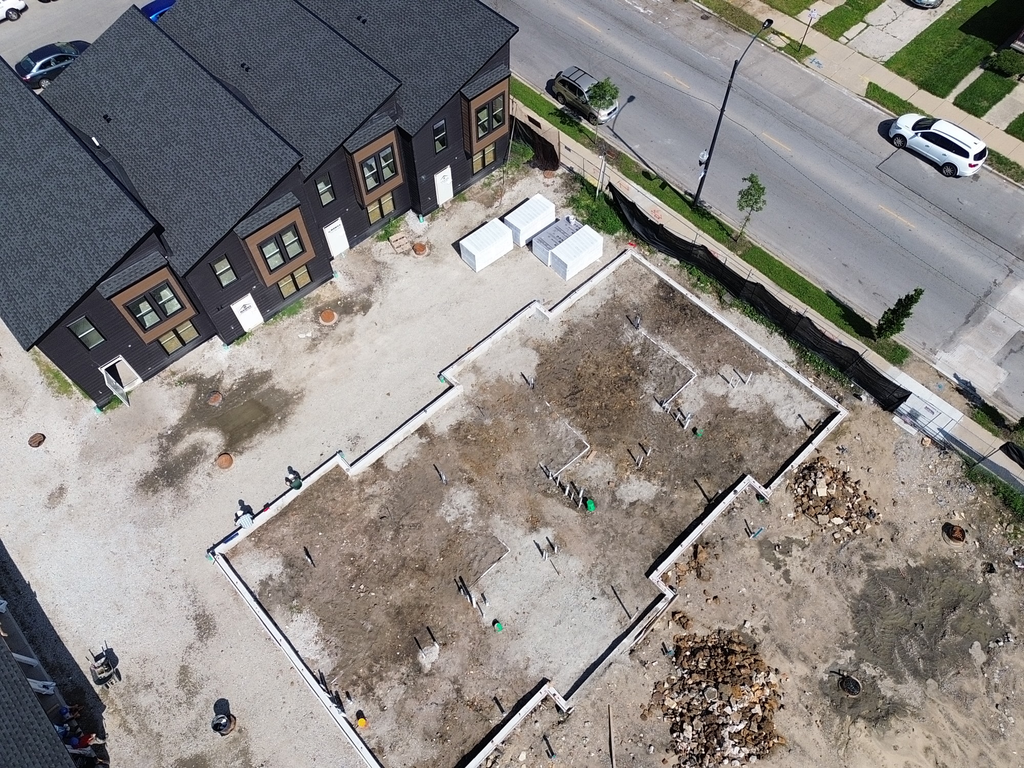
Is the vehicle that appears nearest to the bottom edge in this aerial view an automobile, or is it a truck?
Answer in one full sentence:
The vehicle that appears nearest to the bottom edge can be classified as an automobile.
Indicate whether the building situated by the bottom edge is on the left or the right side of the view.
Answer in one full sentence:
The building situated by the bottom edge appears in the left half of the scene.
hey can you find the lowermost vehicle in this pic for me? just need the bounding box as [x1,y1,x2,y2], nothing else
[887,116,992,184]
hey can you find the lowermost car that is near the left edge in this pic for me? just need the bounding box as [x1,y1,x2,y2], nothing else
[10,39,93,86]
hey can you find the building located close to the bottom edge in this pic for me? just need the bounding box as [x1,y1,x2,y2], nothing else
[0,581,107,768]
